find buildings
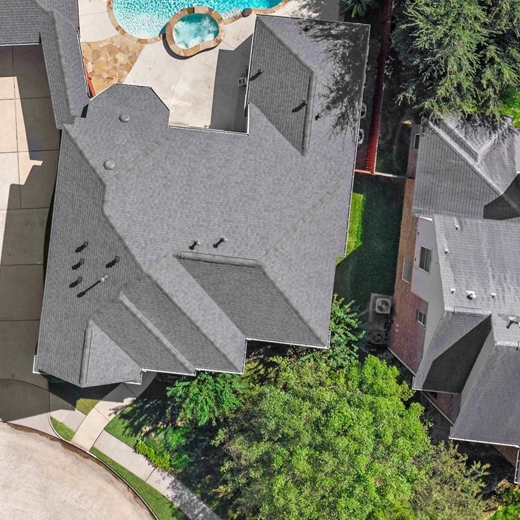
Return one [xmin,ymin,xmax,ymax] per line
[33,13,373,388]
[387,115,520,482]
